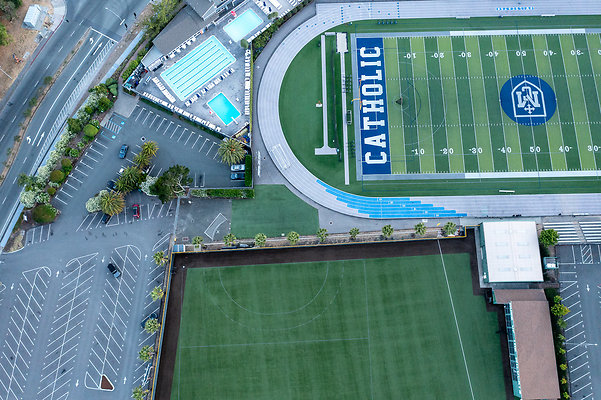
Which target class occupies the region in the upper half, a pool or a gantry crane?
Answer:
pool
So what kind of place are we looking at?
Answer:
sports ground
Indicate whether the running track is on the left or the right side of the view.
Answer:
right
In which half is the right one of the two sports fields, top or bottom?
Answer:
top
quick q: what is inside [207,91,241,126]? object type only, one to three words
swimming pool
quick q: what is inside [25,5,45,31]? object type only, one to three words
shed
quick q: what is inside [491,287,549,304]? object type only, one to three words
shed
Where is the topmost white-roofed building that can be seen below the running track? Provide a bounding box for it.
[480,221,543,283]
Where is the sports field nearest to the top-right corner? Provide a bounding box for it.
[350,21,601,188]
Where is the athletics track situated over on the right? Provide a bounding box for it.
[256,0,601,219]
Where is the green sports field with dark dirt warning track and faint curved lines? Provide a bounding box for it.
[154,227,515,400]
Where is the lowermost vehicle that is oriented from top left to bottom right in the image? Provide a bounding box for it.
[106,260,121,279]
